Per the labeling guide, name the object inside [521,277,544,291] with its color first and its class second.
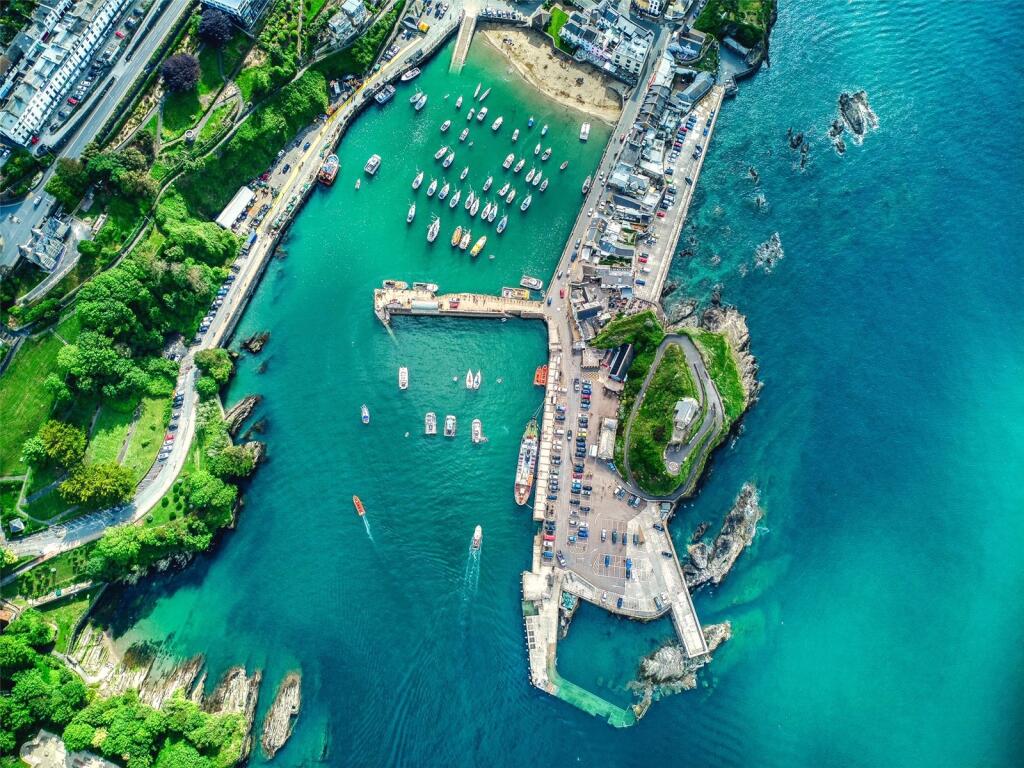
white boat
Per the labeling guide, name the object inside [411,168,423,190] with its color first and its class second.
white boat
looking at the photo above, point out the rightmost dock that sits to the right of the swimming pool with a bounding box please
[670,595,711,657]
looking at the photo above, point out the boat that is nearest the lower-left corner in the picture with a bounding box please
[353,496,366,517]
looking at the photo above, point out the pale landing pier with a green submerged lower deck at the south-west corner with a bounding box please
[522,566,634,727]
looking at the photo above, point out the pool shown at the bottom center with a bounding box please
[560,591,576,611]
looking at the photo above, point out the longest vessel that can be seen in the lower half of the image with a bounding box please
[515,418,538,506]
